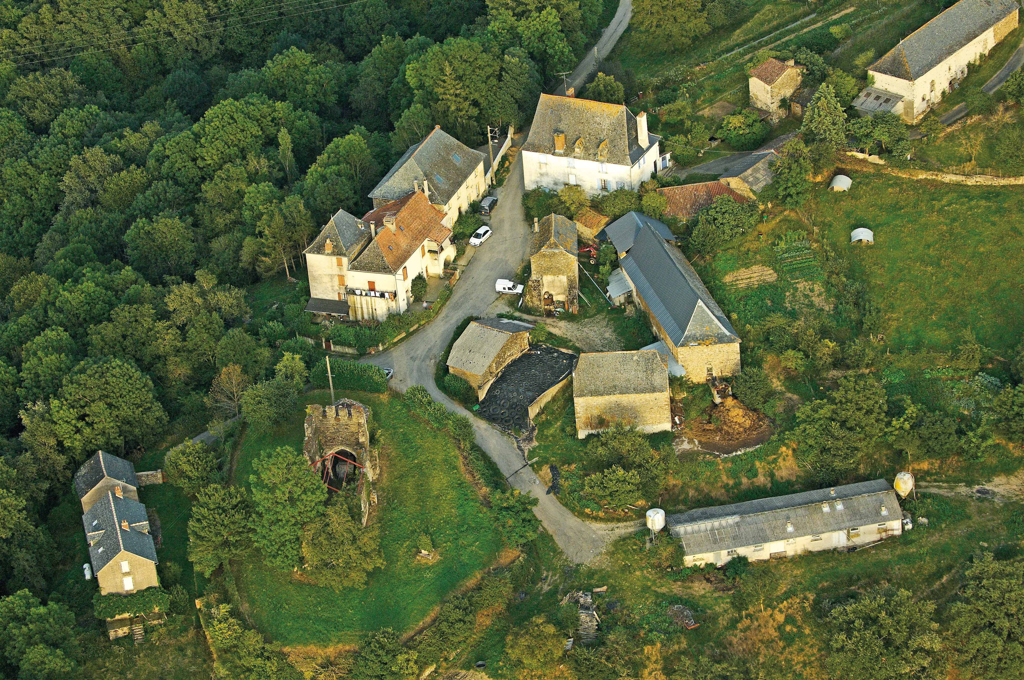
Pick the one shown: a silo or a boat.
silo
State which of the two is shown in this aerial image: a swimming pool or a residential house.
residential house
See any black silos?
No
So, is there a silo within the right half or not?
Yes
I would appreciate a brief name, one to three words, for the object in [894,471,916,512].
silo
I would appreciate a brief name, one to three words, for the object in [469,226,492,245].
car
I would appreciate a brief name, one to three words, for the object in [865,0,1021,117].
barn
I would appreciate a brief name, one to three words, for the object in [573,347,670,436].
barn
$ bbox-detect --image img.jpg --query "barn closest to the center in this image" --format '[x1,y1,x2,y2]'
[446,317,534,393]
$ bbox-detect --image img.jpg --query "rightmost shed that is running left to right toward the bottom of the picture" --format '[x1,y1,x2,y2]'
[671,478,903,571]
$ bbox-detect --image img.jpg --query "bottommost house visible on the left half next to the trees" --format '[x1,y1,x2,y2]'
[86,483,161,602]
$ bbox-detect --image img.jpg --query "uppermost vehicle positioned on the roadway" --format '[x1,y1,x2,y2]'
[478,197,499,215]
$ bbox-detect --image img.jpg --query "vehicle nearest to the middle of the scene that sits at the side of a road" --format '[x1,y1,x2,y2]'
[495,277,526,295]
